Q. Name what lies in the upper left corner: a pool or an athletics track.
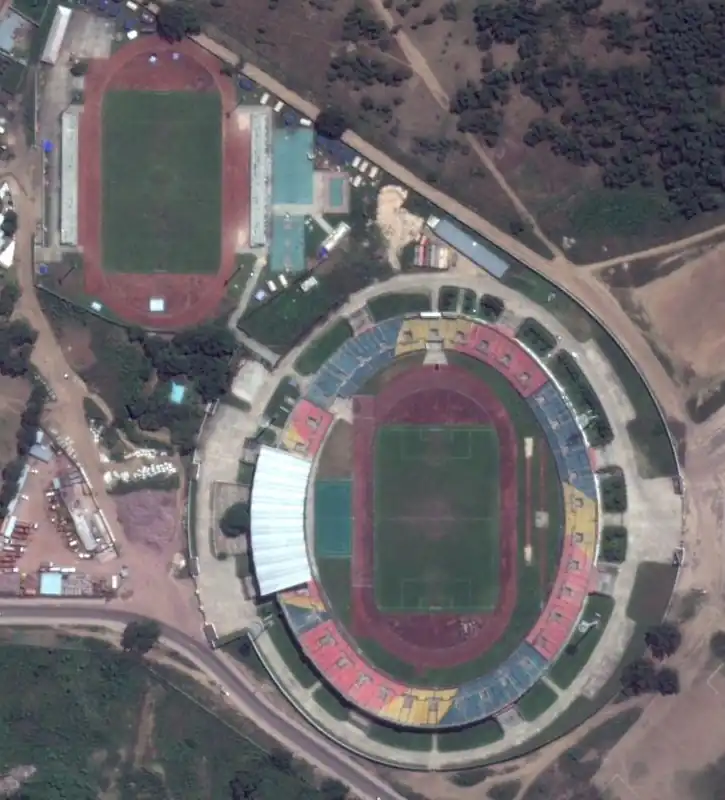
athletics track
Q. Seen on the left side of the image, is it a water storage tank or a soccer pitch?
soccer pitch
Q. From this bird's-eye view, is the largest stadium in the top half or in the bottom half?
bottom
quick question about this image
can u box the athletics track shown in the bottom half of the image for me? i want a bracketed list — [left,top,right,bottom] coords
[353,366,517,669]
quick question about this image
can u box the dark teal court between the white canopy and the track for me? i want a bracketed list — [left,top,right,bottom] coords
[316,480,352,556]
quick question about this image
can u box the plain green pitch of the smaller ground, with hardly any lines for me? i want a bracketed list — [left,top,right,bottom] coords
[103,91,220,273]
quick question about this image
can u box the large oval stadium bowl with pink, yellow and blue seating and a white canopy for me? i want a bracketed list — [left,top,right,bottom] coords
[250,311,609,730]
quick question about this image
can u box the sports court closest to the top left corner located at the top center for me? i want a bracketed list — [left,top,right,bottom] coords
[273,127,314,205]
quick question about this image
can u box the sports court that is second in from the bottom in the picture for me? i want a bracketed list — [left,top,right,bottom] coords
[271,215,305,271]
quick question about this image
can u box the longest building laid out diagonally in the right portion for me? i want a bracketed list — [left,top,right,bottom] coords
[431,219,512,278]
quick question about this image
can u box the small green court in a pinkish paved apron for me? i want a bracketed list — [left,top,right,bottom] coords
[314,171,350,212]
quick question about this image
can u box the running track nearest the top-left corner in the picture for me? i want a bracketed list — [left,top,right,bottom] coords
[83,35,250,329]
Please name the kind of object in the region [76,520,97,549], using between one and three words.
building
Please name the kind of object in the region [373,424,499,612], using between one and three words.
soccer field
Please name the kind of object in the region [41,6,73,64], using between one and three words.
building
